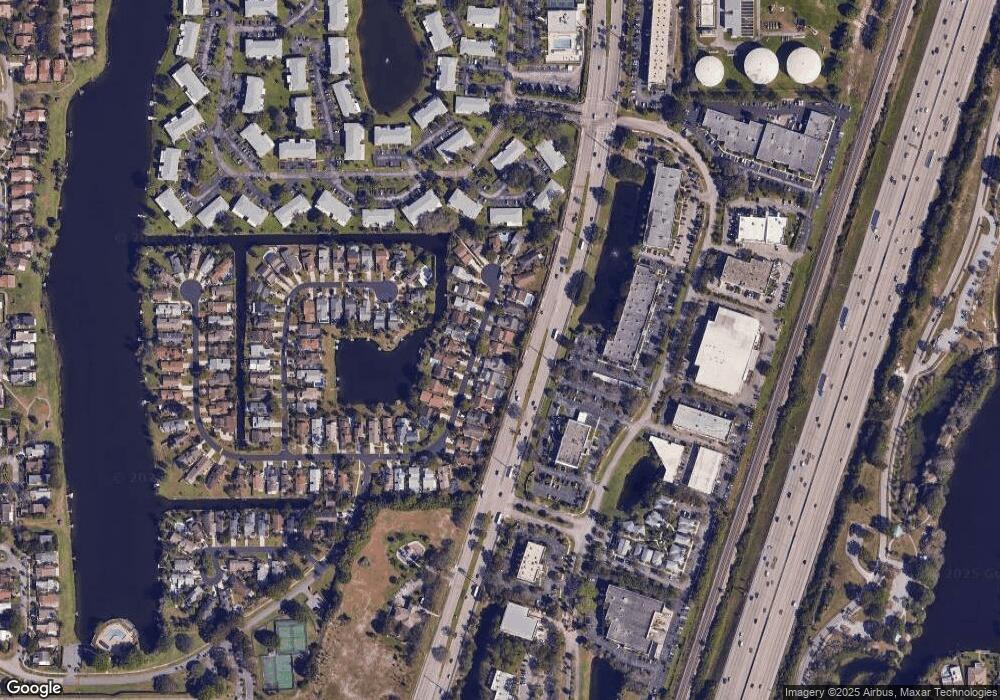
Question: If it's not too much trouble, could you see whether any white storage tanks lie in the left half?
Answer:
No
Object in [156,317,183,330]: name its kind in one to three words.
house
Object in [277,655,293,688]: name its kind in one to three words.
tennis court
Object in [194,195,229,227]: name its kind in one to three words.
building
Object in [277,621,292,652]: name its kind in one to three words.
tennis court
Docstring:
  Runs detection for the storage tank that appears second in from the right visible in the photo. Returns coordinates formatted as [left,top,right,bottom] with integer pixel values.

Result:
[743,46,780,83]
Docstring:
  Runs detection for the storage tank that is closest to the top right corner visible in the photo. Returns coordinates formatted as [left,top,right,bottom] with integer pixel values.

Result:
[786,46,823,83]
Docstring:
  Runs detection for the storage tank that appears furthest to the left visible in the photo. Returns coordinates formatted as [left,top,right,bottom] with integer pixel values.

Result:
[695,56,726,86]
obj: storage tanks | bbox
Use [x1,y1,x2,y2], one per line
[743,46,780,83]
[695,56,726,86]
[786,46,823,83]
